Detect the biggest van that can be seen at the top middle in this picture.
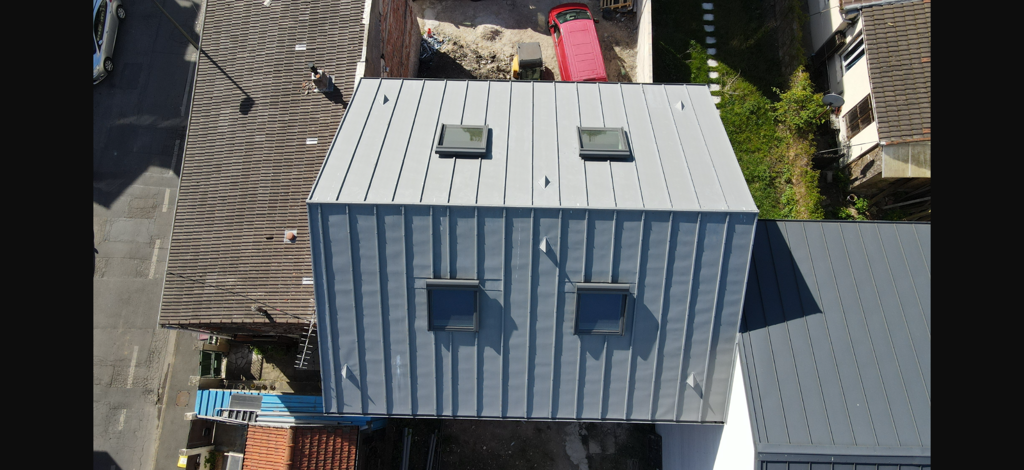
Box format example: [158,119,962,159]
[545,4,606,80]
